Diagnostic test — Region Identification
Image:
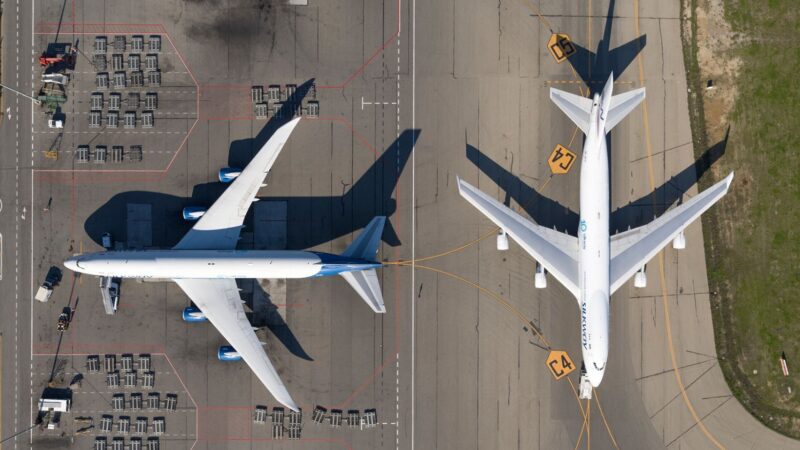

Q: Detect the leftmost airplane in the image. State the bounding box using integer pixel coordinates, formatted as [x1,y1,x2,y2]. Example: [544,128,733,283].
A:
[64,117,387,411]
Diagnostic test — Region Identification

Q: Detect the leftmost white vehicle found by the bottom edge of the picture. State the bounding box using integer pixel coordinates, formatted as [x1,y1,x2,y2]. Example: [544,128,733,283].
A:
[35,400,65,431]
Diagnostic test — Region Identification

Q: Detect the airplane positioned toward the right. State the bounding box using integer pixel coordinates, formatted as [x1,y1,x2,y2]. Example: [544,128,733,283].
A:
[459,73,736,387]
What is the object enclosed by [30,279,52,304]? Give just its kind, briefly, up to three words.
truck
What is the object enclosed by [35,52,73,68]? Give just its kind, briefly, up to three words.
vehicle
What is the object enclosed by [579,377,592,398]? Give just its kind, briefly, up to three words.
vehicle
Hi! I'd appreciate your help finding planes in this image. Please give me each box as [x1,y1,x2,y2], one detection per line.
[459,73,736,387]
[64,117,387,411]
